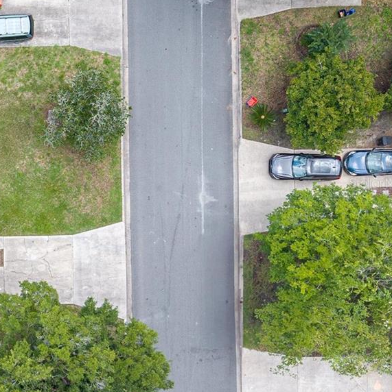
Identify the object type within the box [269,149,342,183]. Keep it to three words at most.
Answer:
car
